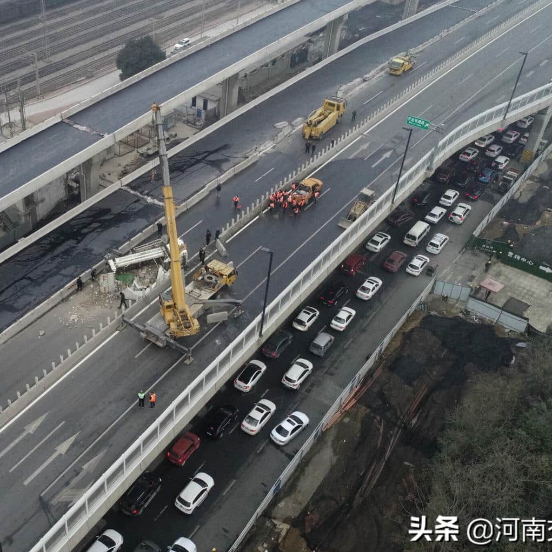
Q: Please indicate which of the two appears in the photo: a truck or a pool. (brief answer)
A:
truck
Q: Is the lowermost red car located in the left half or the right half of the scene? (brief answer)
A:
left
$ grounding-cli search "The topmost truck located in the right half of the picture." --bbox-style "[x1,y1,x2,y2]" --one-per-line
[384,52,417,77]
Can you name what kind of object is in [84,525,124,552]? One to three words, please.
car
